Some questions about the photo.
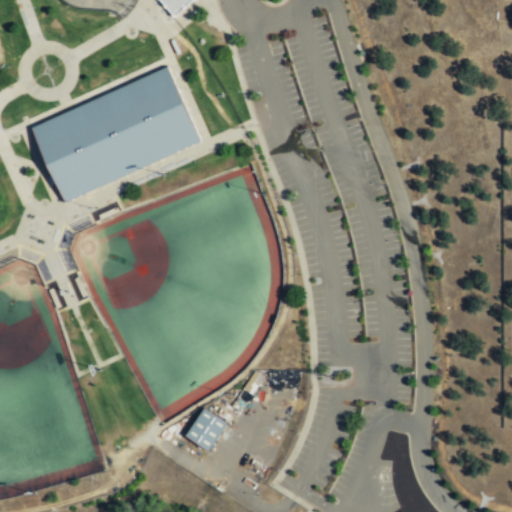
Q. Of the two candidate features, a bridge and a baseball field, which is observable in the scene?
baseball field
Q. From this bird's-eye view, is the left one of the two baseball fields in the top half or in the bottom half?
bottom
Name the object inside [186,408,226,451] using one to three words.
shed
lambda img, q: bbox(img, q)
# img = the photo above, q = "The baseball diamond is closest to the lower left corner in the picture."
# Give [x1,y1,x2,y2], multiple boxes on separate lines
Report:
[0,258,107,500]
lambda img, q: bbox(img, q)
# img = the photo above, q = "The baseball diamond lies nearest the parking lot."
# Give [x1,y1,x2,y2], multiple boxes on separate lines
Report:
[68,164,284,425]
